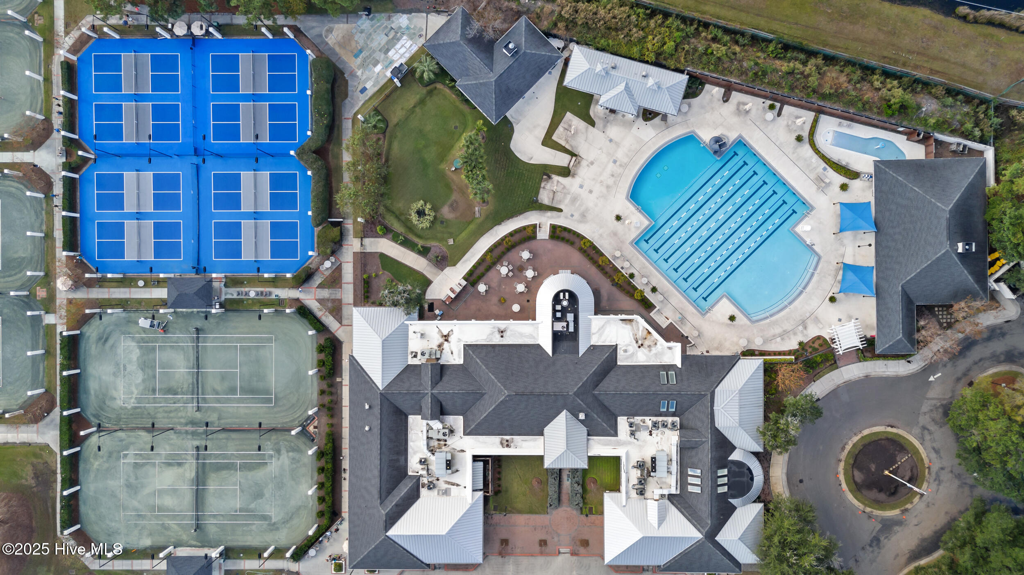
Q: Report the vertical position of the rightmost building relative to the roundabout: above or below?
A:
above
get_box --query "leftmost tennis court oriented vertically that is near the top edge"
[0,20,43,134]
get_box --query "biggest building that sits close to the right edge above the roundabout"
[869,157,989,354]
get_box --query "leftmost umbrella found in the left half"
[58,274,77,292]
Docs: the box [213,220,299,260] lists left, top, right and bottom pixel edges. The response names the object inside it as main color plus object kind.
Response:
blue sports court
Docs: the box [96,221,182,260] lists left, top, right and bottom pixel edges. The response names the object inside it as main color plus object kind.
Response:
blue sports court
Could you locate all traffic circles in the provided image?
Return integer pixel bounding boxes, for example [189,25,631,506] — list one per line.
[839,427,929,516]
